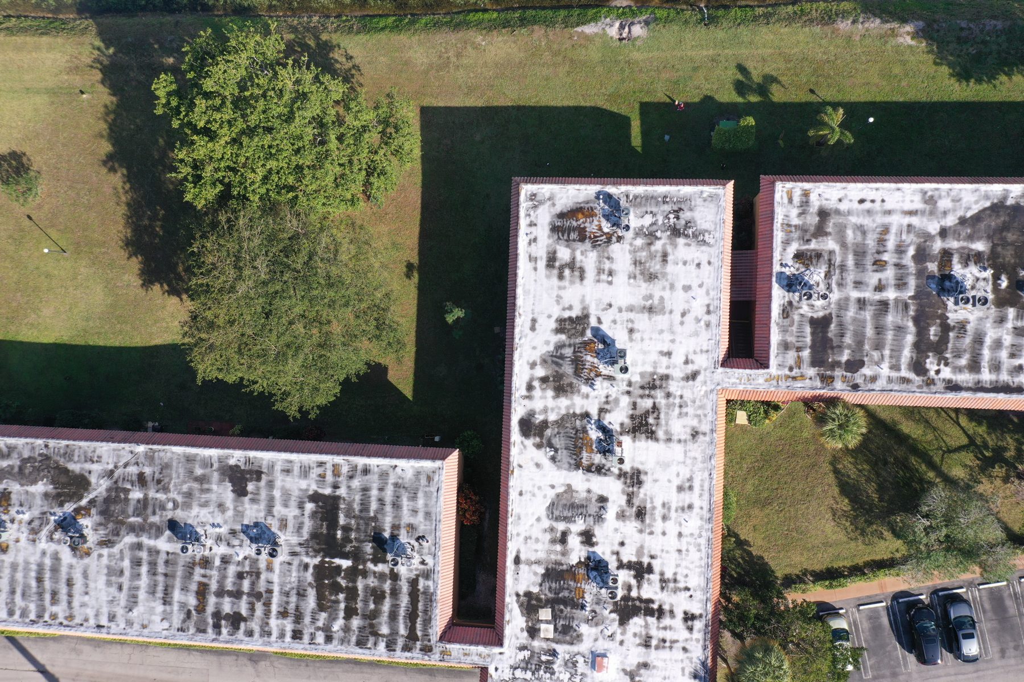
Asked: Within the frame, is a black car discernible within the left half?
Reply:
No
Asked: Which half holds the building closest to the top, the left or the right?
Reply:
right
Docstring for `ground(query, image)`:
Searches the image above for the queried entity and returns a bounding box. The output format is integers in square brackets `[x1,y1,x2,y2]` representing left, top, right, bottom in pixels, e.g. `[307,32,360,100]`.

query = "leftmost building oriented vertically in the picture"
[477,175,737,682]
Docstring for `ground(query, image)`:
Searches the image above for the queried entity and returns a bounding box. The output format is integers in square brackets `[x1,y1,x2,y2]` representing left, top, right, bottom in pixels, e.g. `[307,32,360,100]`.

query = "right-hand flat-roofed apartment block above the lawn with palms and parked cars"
[718,172,1024,413]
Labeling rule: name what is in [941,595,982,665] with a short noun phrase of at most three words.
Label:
car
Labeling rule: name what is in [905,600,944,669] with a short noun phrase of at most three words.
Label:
car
